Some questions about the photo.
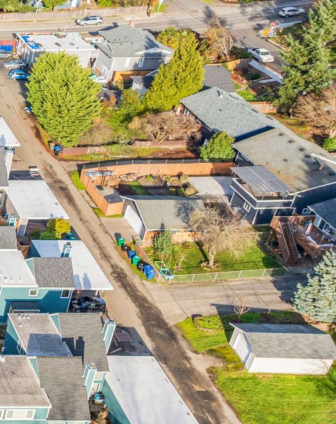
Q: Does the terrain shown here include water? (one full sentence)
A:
No, there's no water in this view.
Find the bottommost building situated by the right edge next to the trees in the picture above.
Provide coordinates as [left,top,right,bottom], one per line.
[229,333,336,379]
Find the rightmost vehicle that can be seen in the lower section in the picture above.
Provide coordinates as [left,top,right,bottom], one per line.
[68,292,110,311]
